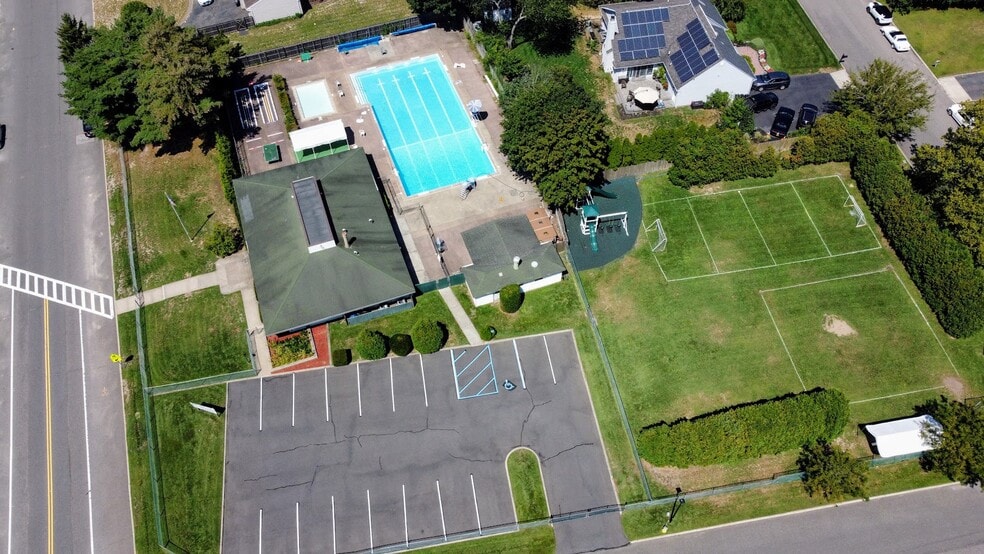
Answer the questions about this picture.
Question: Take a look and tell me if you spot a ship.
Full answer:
No, this view has no ship in it.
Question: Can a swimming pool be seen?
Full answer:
Yes, there's a swimming pool down there.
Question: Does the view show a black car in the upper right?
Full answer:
Yes, in the upper right there is a black car.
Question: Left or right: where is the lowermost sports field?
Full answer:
The lowermost sports field is on the right side of the image.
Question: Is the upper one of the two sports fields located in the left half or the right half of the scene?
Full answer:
You can find the upper one of the two sports fields on the right side of the picture.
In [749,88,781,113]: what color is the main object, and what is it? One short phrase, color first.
black car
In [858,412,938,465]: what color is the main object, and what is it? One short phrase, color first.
white tent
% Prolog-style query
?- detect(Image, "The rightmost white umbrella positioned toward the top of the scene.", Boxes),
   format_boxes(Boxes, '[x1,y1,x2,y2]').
[635,80,666,101]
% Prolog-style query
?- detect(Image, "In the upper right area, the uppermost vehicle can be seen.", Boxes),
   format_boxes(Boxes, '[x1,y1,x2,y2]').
[866,0,898,23]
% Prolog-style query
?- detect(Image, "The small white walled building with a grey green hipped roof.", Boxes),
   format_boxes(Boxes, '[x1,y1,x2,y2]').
[459,214,565,306]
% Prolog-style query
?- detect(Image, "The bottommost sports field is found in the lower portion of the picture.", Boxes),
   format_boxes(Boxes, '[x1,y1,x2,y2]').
[749,262,968,403]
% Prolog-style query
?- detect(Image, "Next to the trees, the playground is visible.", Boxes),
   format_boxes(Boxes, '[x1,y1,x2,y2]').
[577,186,629,252]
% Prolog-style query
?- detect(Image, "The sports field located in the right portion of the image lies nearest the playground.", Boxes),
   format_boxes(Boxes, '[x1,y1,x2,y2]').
[640,176,882,282]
